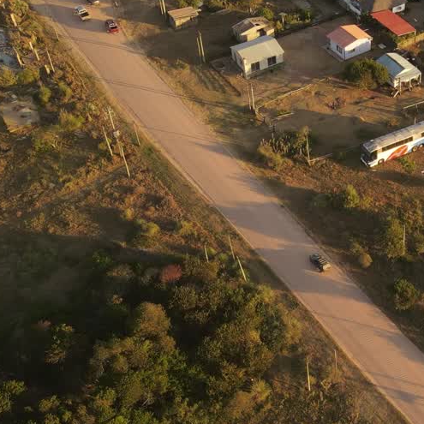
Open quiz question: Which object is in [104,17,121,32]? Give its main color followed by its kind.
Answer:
red vehicle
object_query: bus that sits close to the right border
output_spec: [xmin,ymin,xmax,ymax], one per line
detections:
[361,123,424,165]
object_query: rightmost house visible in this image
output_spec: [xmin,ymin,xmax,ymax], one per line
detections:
[379,50,423,106]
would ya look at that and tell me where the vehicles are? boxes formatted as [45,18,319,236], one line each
[72,5,91,20]
[89,0,102,5]
[361,123,424,165]
[308,251,334,273]
[104,17,121,32]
